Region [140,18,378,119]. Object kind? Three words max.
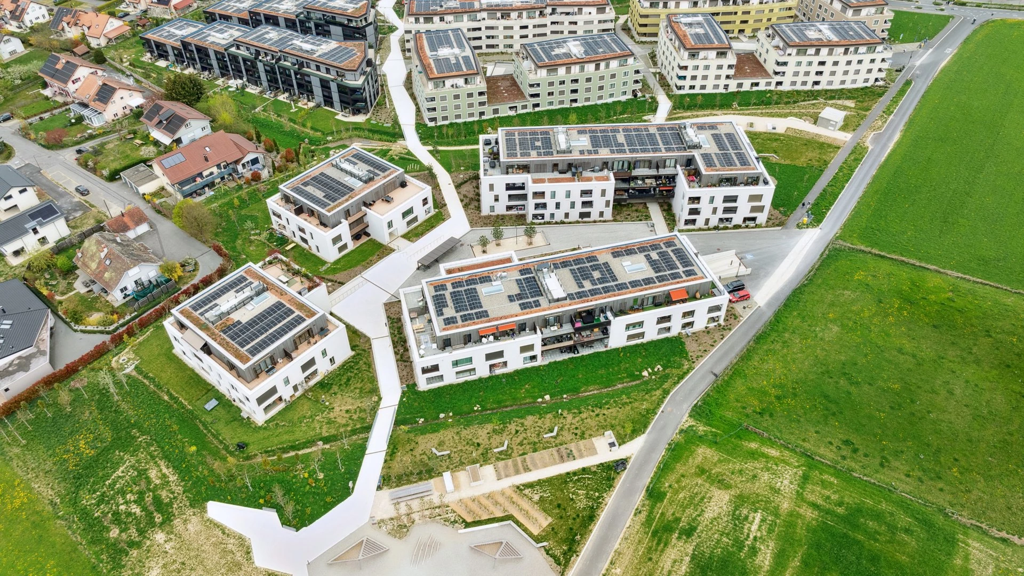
building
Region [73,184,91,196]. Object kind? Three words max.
vehicle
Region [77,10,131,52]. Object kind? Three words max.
house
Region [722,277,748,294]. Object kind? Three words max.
car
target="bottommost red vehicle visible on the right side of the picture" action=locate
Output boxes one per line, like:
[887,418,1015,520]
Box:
[729,288,753,303]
